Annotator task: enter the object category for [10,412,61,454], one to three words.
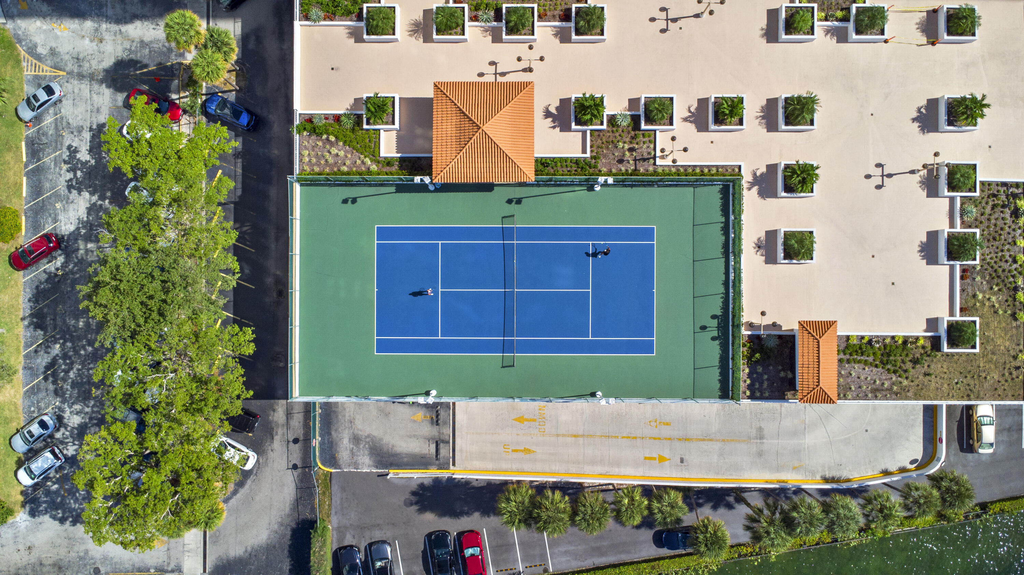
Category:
car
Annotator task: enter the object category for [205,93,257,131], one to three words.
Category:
car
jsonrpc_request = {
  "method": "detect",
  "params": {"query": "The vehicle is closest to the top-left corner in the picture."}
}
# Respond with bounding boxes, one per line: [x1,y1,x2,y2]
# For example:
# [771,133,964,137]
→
[16,79,67,122]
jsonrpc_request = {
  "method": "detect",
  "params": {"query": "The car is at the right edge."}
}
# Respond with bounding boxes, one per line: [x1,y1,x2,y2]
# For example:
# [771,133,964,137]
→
[967,405,996,454]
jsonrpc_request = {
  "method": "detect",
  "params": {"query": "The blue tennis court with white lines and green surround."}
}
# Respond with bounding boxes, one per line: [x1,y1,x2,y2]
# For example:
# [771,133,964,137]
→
[300,182,730,397]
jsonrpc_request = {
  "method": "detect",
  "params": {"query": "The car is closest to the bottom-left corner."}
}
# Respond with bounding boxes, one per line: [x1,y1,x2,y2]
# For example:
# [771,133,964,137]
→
[16,445,67,488]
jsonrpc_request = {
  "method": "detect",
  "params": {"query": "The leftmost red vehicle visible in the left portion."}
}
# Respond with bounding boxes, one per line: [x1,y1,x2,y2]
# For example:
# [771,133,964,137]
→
[10,231,62,271]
